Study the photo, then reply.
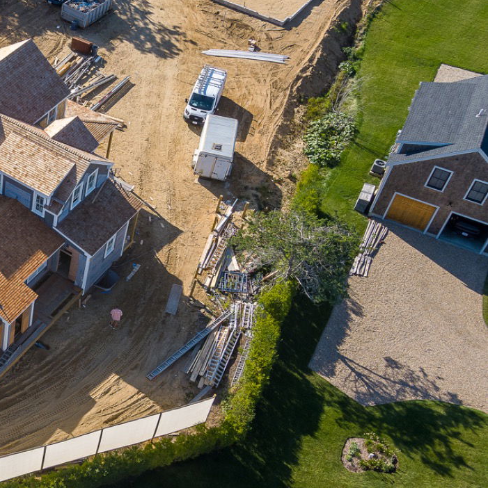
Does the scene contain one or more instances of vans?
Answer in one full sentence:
Yes, the image includes a van.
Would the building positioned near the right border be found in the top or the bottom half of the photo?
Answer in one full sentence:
Seen from above, the building positioned near the right border lies in the top half of the view.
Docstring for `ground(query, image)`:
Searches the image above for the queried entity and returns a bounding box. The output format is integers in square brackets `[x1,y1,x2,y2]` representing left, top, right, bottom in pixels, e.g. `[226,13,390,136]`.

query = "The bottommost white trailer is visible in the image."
[185,115,235,183]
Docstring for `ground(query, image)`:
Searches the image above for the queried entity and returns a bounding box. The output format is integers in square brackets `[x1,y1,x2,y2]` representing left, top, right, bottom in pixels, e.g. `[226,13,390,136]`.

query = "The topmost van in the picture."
[188,55,237,123]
